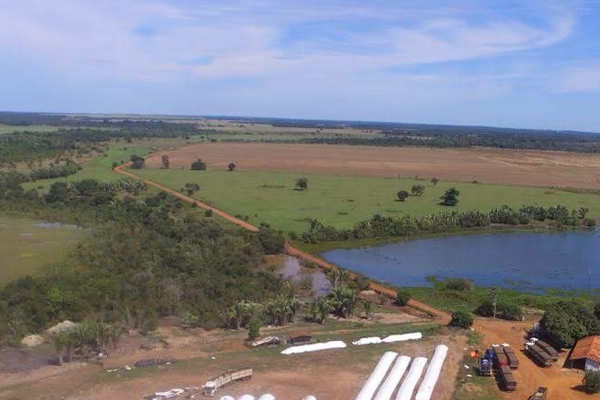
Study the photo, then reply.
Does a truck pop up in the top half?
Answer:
No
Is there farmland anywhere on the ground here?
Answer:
Yes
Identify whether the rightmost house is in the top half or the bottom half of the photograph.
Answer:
bottom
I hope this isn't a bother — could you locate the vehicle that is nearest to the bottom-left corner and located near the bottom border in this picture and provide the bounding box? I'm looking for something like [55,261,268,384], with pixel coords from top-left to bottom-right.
[204,370,256,397]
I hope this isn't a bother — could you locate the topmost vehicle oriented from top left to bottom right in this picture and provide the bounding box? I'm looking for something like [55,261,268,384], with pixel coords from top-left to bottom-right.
[531,325,549,345]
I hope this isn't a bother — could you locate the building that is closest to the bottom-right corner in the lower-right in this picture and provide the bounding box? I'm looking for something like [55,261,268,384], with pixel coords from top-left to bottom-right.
[569,338,600,374]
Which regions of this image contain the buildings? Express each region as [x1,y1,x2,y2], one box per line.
[287,335,313,345]
[569,338,600,374]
